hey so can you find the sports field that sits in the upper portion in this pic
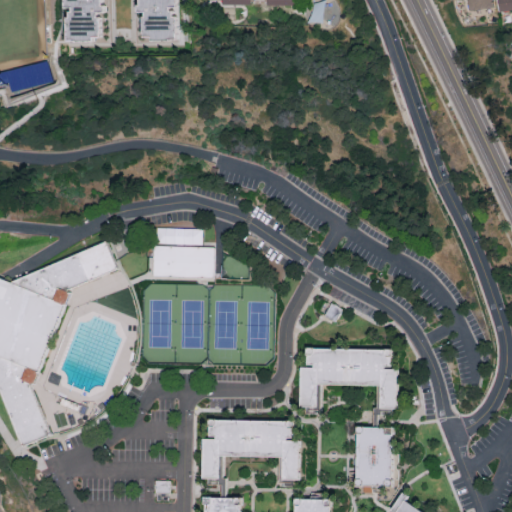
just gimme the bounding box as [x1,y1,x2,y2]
[0,0,47,72]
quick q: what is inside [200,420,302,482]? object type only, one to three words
building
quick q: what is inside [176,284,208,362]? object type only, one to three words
tennis court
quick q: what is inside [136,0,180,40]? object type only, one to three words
building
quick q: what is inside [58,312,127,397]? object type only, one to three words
swimming pool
